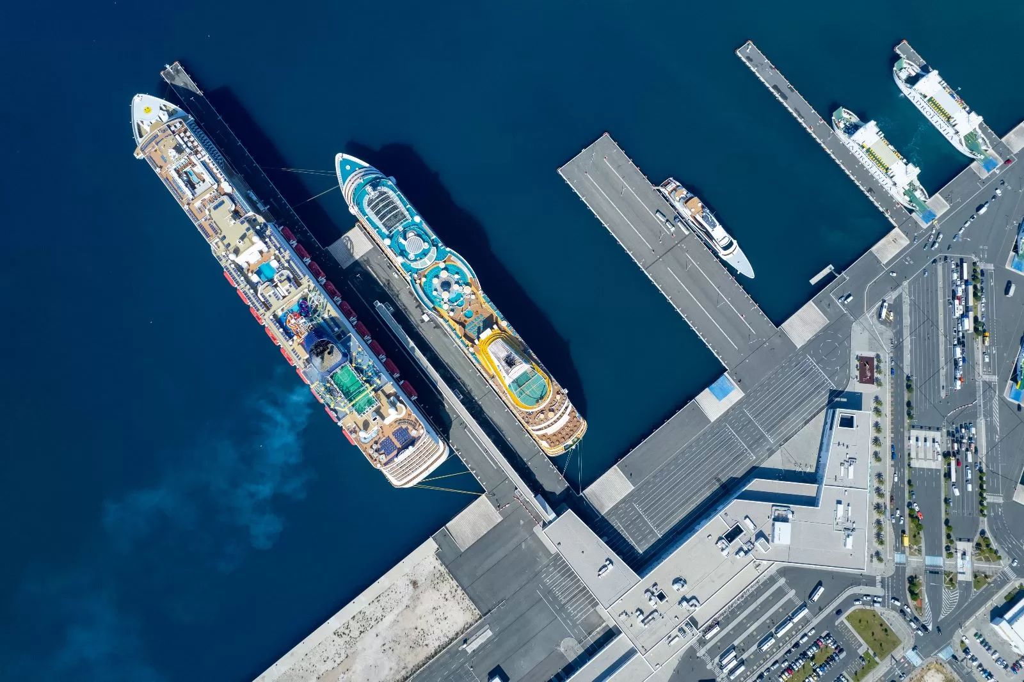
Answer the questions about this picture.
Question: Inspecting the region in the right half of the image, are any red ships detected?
No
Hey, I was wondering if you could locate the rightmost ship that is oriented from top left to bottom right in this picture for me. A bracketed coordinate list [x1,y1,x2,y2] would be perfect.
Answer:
[891,55,998,173]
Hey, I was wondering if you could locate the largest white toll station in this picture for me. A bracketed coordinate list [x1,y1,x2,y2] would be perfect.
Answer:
[907,431,938,468]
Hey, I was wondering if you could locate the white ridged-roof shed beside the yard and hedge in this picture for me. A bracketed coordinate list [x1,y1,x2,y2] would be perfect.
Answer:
[985,587,1024,663]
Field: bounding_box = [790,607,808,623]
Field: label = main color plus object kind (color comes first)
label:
white vehicle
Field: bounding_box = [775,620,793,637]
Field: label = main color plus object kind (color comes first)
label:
white vehicle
